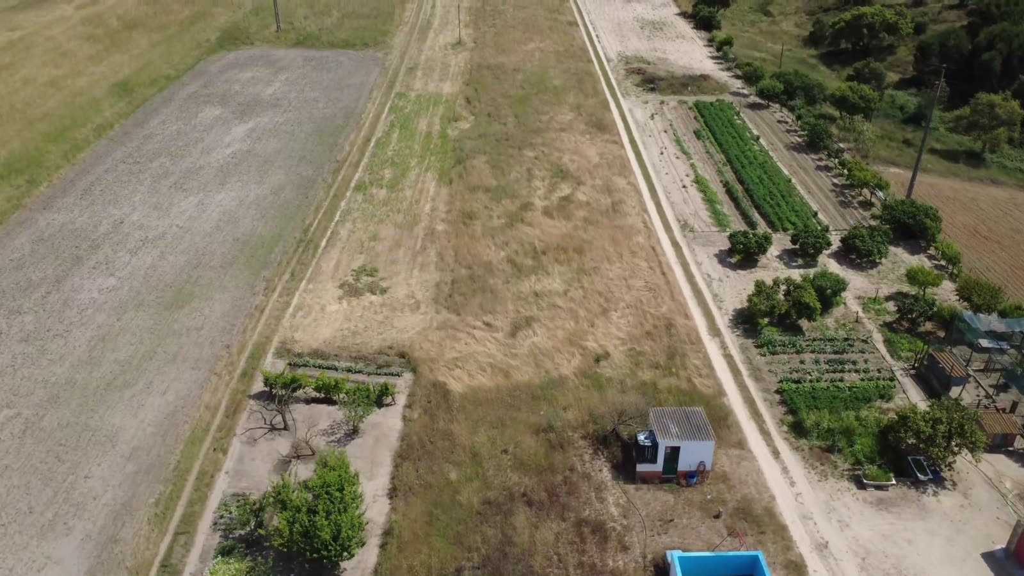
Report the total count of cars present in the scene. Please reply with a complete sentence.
The count of cars is 0.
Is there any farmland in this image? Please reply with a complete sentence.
Yes, some farmland is visible.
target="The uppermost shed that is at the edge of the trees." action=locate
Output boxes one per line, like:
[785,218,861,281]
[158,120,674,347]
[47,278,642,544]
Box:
[918,341,973,396]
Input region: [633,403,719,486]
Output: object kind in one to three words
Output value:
shed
